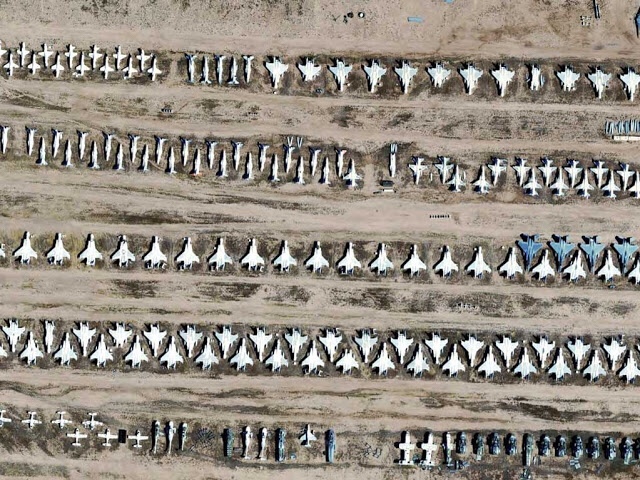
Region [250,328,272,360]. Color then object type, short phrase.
white airplane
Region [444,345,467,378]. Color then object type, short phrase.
white airplane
